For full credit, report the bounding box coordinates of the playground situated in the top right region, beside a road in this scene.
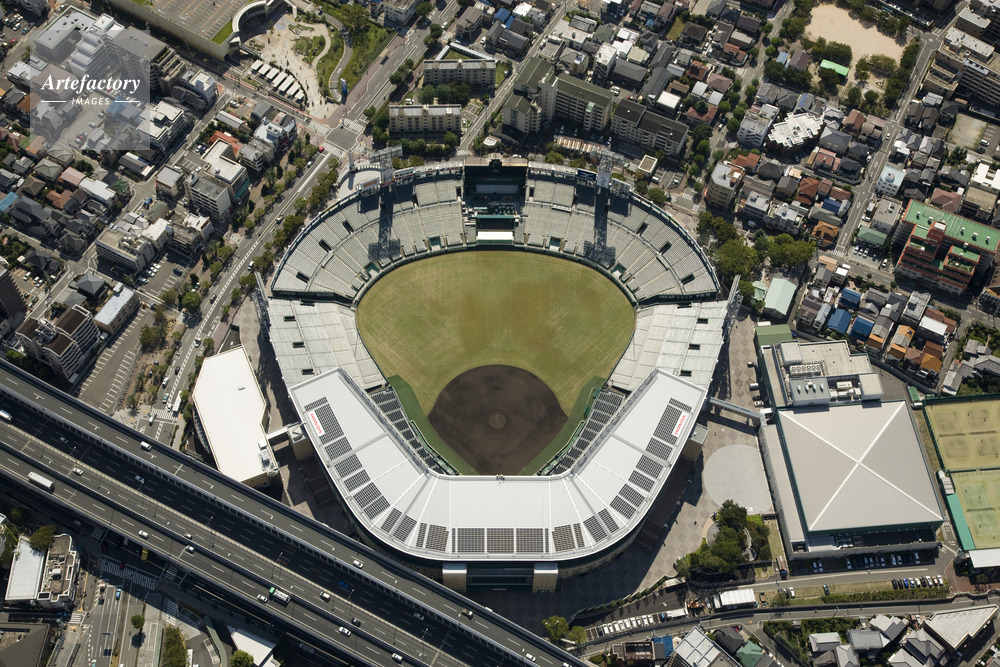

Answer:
[806,5,903,84]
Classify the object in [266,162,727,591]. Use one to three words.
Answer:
stadium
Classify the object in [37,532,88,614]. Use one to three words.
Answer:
building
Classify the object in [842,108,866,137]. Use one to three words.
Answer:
house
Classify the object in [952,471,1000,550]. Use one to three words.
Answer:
tennis court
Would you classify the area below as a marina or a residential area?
residential area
